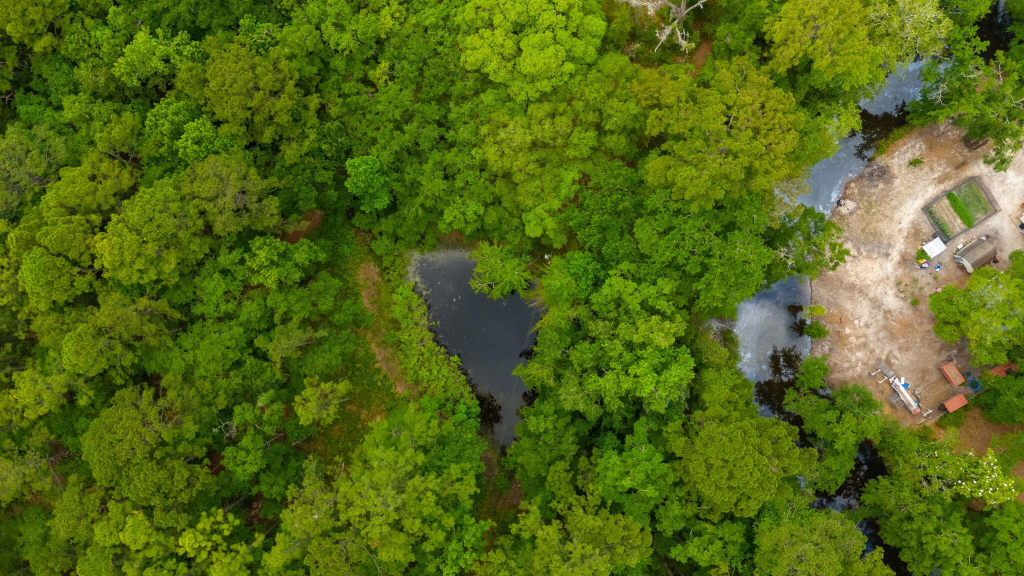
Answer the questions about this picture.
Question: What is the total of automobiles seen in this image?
0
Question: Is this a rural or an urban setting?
rural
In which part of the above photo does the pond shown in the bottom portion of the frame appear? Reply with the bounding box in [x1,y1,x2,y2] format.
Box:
[408,247,544,452]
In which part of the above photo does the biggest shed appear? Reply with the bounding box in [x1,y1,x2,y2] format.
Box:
[949,238,998,275]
